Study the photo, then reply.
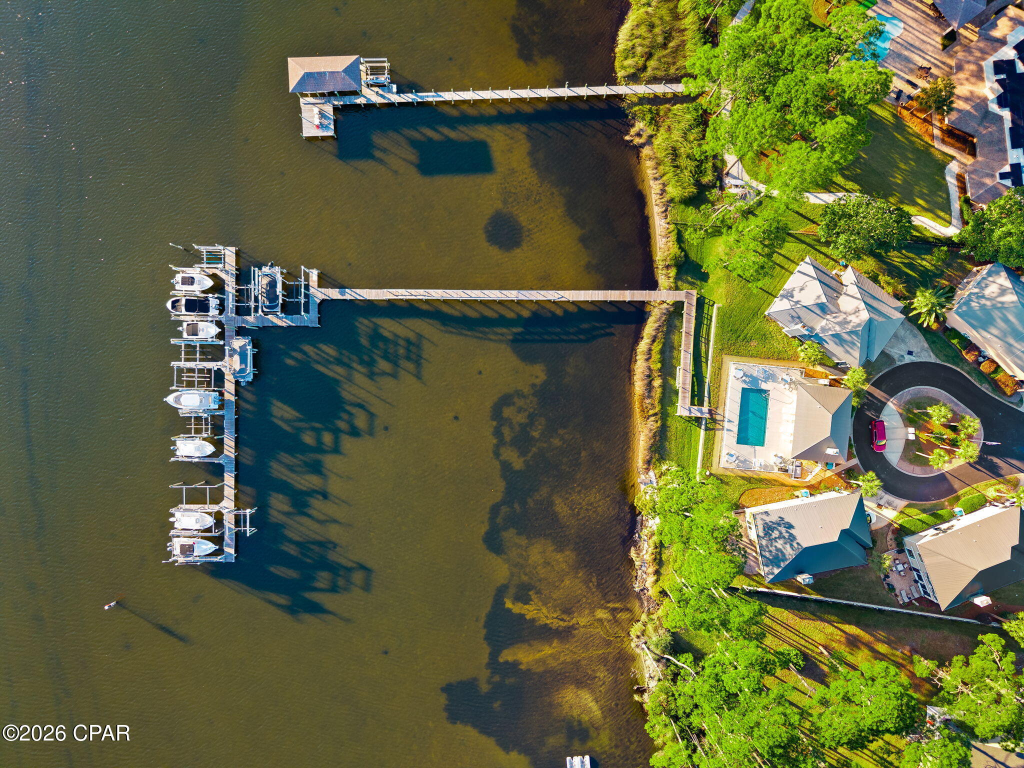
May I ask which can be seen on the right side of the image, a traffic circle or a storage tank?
traffic circle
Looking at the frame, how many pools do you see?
2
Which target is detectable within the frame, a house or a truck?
house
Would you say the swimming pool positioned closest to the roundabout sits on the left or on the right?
right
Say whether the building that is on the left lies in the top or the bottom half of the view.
top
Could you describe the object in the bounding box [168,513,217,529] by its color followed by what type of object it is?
white boat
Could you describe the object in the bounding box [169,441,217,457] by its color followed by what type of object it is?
white boat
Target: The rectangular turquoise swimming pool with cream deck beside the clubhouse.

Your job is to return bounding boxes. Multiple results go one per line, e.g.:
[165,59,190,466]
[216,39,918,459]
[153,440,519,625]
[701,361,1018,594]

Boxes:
[720,363,852,472]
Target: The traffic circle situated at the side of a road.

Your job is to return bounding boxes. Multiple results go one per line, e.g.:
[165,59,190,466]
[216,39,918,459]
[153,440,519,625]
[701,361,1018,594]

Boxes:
[880,386,984,476]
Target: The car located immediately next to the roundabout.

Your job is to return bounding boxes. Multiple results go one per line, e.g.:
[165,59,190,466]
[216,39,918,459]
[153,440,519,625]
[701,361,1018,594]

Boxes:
[867,419,886,452]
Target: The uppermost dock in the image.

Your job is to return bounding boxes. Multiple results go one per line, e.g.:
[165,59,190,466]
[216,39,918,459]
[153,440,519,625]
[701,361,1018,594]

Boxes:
[298,63,684,142]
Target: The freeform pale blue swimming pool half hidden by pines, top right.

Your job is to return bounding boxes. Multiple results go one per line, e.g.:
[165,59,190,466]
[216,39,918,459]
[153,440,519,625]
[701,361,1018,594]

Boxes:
[855,12,906,63]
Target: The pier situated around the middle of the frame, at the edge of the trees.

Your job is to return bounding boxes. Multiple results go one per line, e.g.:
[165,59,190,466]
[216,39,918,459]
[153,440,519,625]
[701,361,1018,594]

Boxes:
[176,247,716,564]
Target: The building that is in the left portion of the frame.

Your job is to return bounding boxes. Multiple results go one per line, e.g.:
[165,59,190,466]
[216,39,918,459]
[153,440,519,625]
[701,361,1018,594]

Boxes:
[288,55,363,98]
